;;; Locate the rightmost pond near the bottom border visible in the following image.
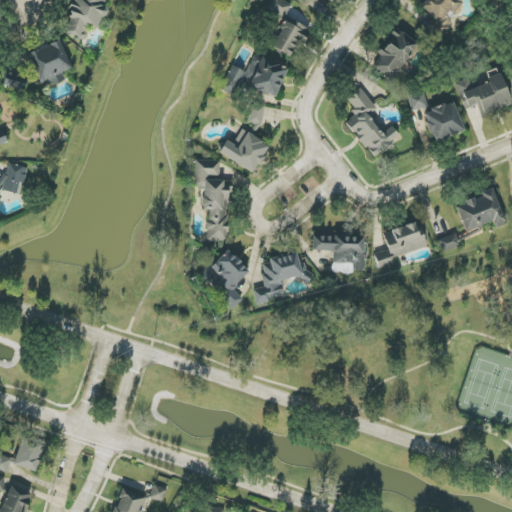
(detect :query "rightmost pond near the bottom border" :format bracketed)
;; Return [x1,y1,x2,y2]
[159,398,512,512]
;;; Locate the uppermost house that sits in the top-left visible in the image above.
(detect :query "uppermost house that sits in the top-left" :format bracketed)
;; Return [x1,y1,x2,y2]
[68,0,108,38]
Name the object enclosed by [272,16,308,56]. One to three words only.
house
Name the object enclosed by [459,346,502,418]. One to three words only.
tennis court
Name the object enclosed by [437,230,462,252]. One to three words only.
building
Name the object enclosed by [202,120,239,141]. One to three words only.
swimming pool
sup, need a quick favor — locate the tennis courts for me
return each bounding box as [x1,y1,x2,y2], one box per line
[484,354,512,427]
[459,346,502,418]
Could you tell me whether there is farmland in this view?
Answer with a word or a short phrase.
No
